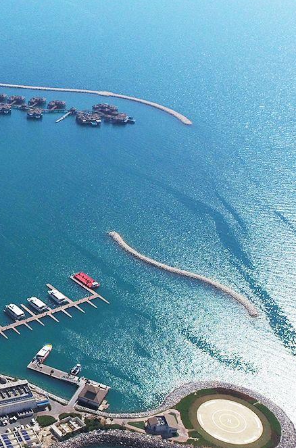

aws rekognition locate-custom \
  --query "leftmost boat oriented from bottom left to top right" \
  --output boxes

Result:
[32,343,53,363]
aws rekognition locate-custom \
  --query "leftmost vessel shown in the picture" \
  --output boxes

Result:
[6,305,25,320]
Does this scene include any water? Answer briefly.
Yes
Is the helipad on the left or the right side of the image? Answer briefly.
right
